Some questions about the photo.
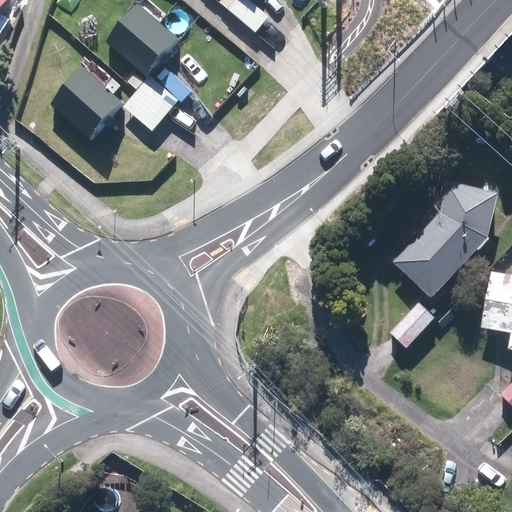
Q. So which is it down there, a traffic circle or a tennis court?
traffic circle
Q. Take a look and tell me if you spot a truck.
Yes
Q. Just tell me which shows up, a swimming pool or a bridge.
swimming pool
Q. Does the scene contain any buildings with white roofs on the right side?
Yes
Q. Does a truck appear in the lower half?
Yes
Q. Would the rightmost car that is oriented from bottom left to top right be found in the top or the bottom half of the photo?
top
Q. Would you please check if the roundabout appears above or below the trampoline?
above it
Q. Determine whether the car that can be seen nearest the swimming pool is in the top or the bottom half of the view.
top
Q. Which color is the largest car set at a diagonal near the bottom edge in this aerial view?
white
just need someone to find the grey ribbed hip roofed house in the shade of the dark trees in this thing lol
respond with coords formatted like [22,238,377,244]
[394,183,499,297]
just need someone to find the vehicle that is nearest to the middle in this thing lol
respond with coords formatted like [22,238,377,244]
[318,140,344,164]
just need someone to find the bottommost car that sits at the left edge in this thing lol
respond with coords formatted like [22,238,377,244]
[1,380,28,409]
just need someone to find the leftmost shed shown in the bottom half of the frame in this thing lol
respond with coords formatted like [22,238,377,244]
[391,303,434,347]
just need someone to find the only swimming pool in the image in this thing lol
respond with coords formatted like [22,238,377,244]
[164,9,191,36]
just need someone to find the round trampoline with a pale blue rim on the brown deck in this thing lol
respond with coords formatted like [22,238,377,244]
[94,488,119,512]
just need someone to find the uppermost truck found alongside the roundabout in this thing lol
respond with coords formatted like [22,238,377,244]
[32,339,64,374]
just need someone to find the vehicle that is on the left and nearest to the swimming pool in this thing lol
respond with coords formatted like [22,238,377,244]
[180,54,207,84]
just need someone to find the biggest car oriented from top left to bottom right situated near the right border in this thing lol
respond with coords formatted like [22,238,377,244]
[476,462,508,488]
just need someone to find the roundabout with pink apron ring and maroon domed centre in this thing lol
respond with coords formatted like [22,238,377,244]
[54,284,166,388]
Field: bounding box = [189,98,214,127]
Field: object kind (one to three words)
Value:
car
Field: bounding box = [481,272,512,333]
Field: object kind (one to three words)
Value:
house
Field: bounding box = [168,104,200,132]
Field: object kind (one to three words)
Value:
truck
